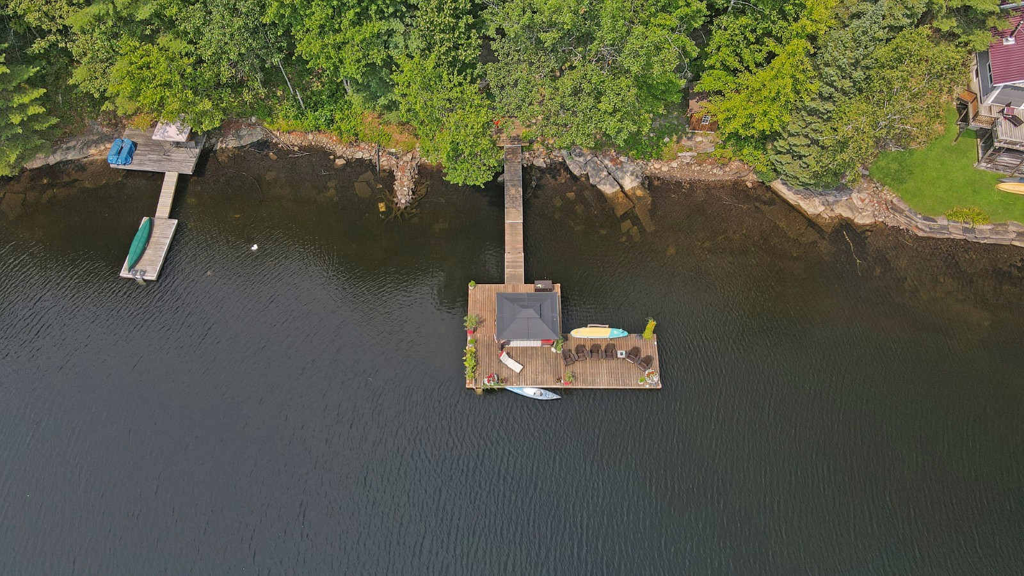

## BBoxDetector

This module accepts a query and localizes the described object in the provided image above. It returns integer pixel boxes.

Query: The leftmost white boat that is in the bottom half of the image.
[507,385,562,401]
